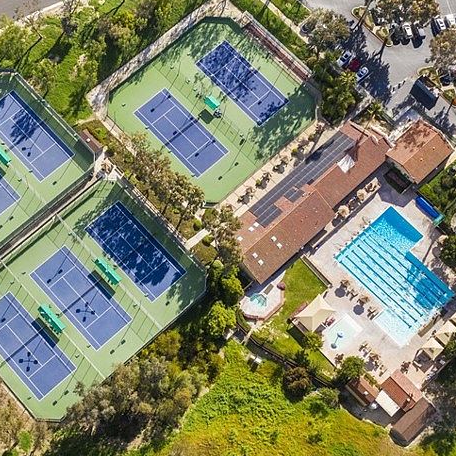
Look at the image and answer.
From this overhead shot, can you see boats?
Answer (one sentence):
No, there isn't any boat down there.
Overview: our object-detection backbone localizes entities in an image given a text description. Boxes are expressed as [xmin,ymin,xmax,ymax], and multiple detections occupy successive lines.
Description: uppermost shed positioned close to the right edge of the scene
[406,79,442,114]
